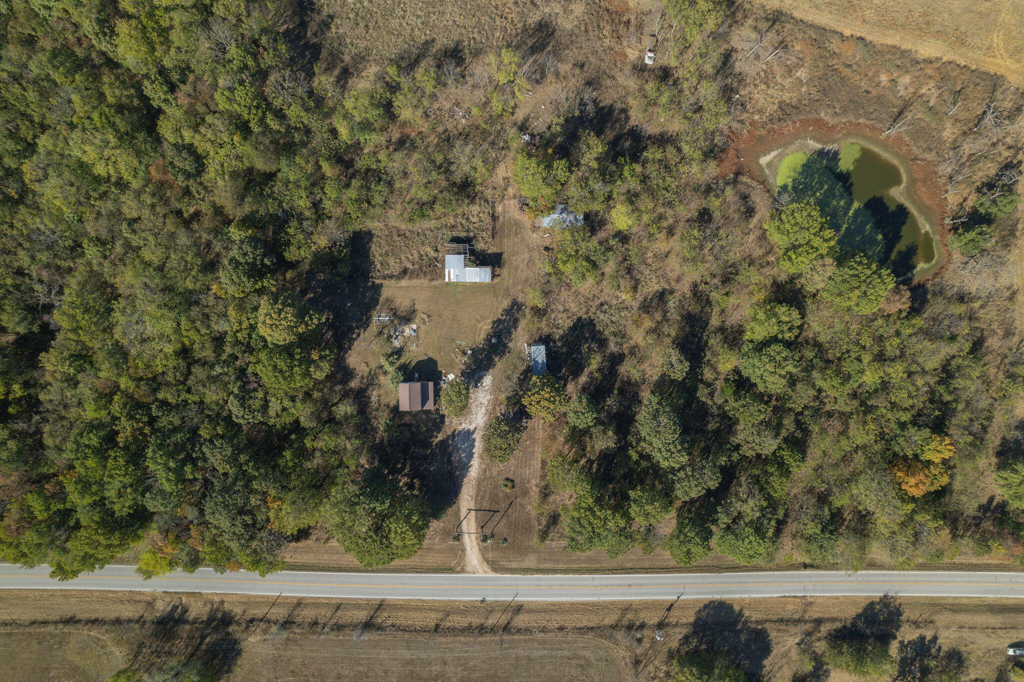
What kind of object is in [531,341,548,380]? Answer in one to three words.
shed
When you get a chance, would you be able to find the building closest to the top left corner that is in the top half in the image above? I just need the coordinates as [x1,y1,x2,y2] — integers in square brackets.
[445,242,491,282]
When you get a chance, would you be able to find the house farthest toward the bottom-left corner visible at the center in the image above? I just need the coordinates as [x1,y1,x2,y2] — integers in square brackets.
[399,382,434,411]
